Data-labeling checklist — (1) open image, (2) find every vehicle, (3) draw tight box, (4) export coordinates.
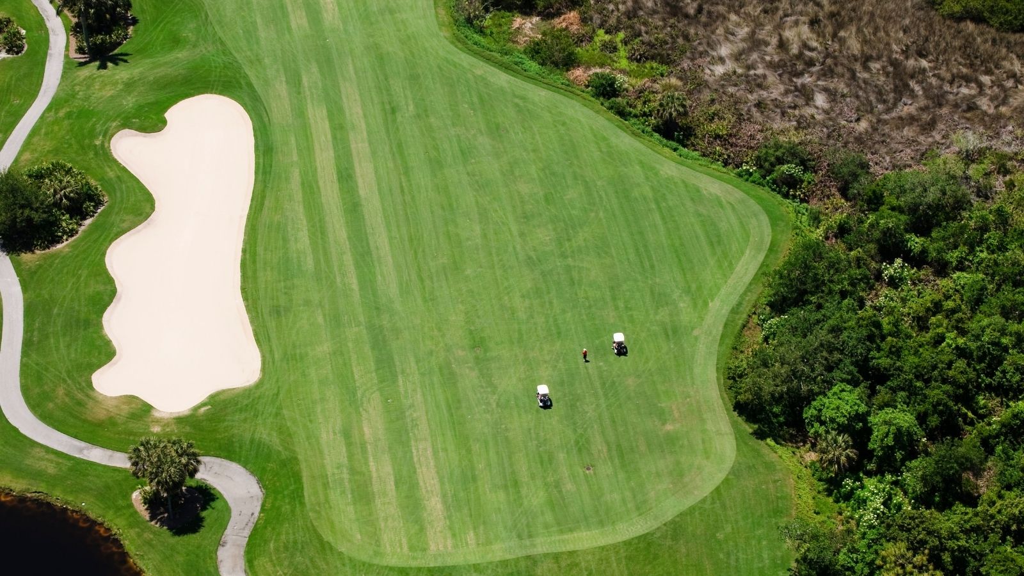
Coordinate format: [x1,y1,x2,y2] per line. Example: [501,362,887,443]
[536,385,552,410]
[613,333,627,355]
